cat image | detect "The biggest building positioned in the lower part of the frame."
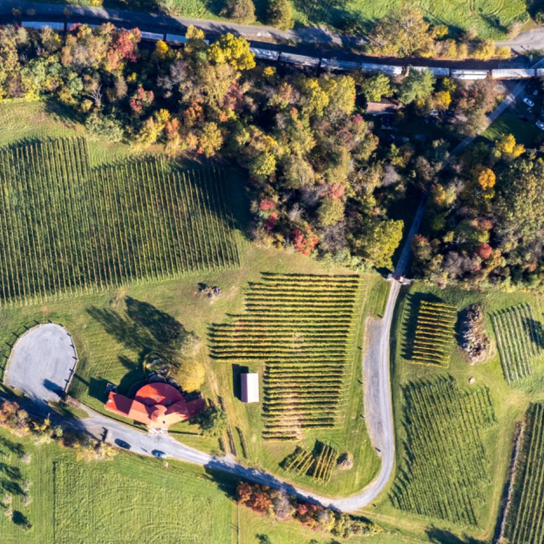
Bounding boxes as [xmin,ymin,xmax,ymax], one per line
[106,373,205,436]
